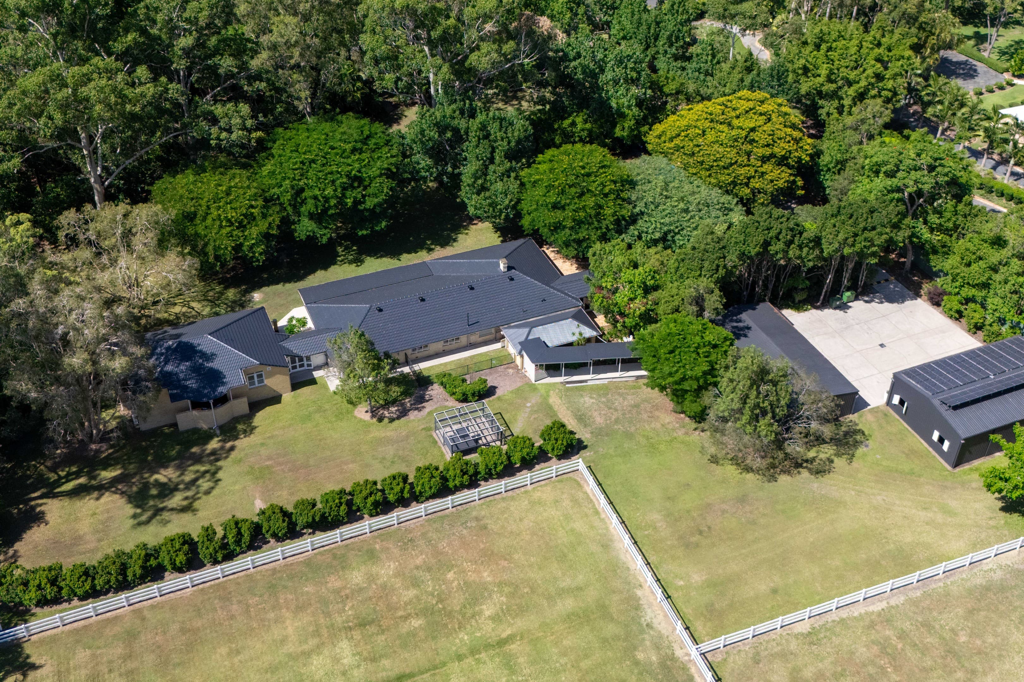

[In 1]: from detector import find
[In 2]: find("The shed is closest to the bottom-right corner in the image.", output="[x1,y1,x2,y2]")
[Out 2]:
[886,334,1024,468]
